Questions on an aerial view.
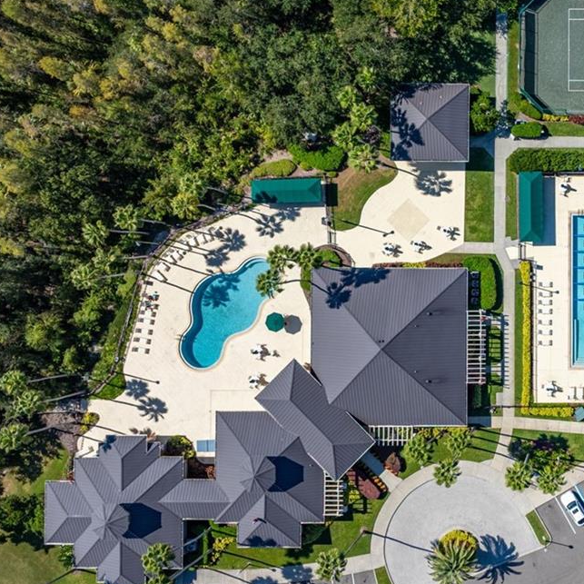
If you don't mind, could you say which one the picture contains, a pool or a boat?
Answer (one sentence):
Of the two, only a pool appears.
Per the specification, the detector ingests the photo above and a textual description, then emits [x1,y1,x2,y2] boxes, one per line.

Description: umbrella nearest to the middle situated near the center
[266,313,285,331]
